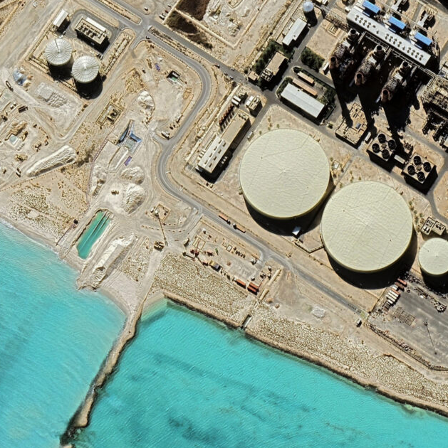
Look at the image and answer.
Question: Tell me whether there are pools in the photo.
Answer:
Yes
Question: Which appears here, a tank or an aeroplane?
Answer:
tank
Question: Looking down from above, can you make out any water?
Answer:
Yes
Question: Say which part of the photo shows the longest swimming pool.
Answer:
left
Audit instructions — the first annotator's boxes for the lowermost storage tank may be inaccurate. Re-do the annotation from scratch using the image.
[418,238,448,277]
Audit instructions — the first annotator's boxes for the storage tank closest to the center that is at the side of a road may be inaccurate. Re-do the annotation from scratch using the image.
[239,128,329,220]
